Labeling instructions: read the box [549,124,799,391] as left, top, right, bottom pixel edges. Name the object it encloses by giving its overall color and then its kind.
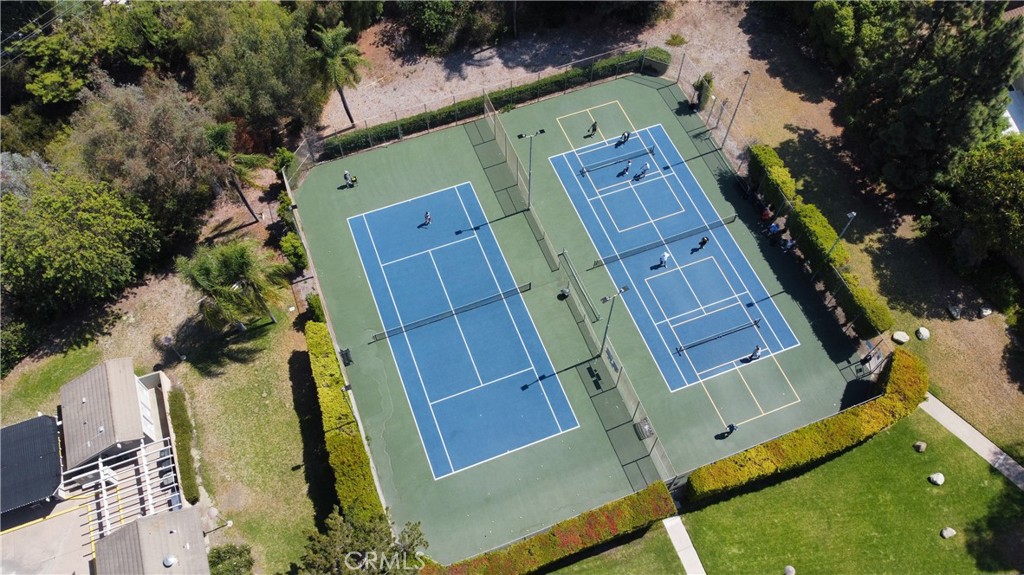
blue tennis court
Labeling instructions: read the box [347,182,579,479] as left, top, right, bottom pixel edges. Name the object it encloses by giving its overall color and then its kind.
blue tennis court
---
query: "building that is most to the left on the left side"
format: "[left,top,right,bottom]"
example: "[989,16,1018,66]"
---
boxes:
[0,410,70,523]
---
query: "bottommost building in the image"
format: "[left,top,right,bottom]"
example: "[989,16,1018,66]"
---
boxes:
[95,506,216,575]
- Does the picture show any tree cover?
Yes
